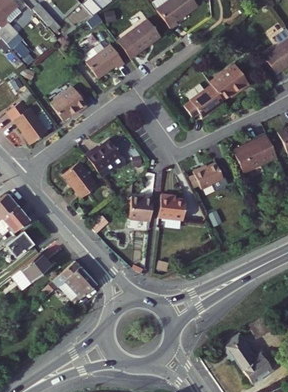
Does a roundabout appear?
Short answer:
Yes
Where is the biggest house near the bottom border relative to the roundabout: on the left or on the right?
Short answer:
to the right of it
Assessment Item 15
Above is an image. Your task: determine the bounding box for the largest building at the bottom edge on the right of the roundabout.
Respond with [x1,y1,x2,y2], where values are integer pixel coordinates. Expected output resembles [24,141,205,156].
[229,342,264,378]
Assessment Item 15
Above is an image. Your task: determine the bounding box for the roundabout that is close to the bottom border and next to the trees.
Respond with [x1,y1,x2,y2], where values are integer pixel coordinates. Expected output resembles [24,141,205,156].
[86,284,188,374]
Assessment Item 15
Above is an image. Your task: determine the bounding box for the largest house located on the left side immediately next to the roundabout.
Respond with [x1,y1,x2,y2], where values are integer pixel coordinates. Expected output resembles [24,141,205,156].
[66,268,100,302]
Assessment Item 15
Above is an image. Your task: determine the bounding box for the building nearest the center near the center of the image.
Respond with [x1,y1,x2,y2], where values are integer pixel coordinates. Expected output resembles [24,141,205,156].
[128,195,154,222]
